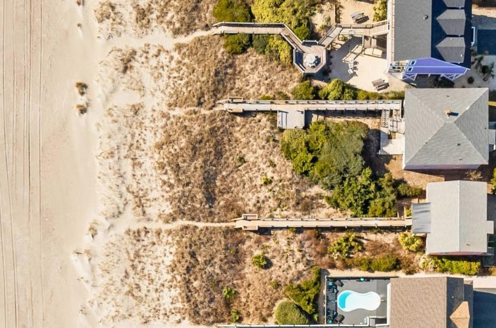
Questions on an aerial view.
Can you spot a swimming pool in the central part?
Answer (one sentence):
No, there's no swimming pool to be seen in the central part.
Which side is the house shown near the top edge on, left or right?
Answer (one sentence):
You can find the house shown near the top edge on the right side of the picture.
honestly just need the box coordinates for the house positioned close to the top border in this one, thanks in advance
[378,0,473,86]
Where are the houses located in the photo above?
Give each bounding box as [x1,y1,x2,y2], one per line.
[378,0,473,86]
[410,180,496,256]
[384,276,474,328]
[381,87,496,172]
